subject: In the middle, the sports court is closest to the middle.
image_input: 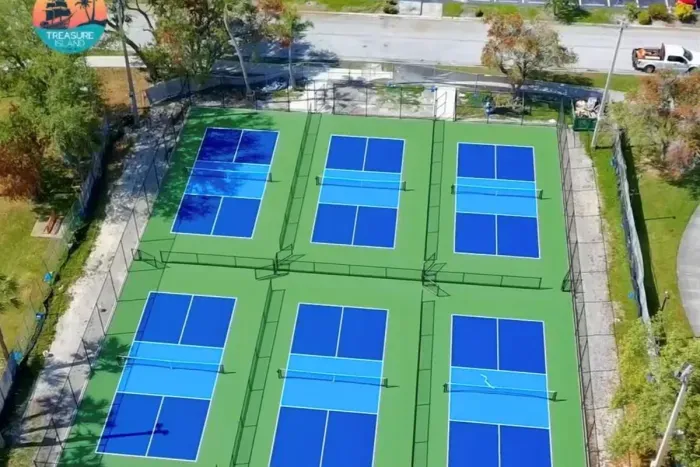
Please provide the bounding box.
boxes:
[311,134,405,248]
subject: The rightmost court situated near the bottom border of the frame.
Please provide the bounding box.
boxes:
[448,315,552,467]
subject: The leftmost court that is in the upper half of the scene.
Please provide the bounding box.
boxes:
[171,126,279,239]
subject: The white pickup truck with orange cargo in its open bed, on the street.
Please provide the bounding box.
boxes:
[631,40,700,75]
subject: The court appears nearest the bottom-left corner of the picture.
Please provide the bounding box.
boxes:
[95,292,237,460]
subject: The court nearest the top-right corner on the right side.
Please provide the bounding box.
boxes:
[455,142,539,258]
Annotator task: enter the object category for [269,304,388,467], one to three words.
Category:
sports court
